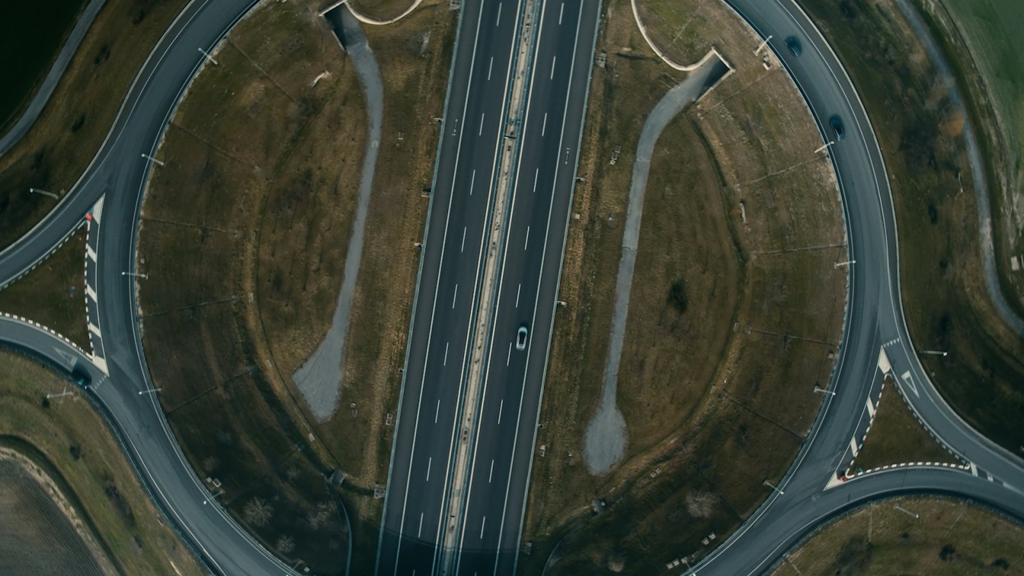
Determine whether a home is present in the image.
No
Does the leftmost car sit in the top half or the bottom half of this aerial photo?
bottom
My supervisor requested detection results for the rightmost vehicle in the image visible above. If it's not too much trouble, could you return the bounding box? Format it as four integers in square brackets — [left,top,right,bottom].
[829,115,844,140]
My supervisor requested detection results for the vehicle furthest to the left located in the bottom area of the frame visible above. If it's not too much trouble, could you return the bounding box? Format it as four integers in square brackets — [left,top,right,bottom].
[71,367,94,389]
